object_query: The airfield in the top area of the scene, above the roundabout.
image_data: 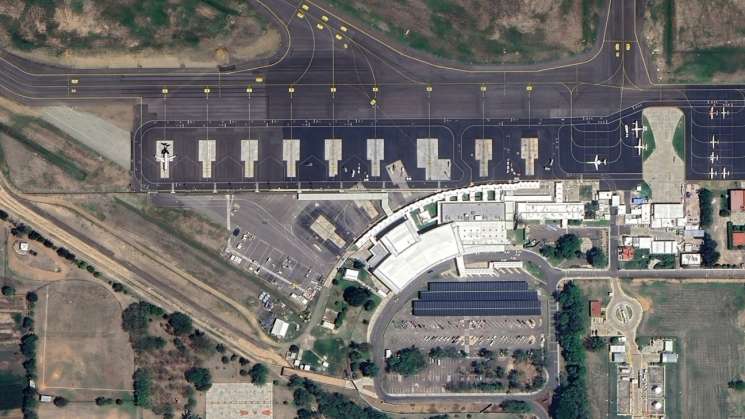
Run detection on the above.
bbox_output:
[0,0,745,299]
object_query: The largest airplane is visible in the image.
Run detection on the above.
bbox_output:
[156,142,177,170]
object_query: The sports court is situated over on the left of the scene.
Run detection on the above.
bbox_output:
[207,383,273,419]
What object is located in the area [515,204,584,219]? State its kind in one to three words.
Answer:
building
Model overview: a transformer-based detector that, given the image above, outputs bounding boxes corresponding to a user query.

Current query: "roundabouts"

[606,277,643,350]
